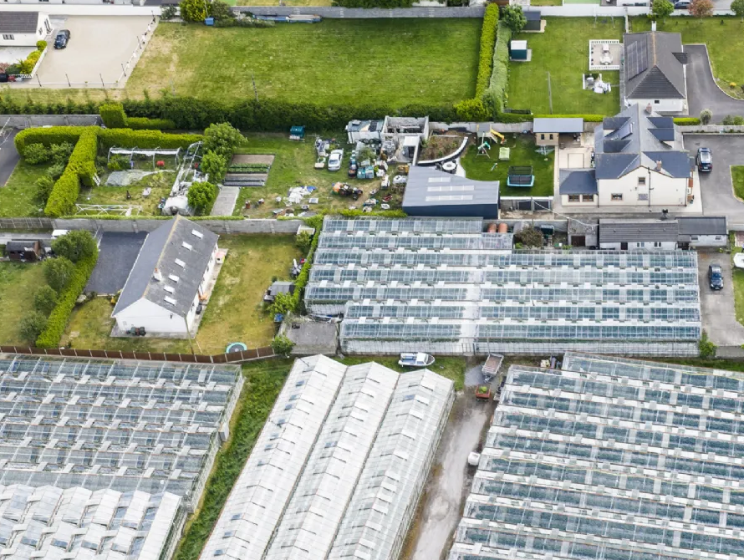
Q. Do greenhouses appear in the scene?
Yes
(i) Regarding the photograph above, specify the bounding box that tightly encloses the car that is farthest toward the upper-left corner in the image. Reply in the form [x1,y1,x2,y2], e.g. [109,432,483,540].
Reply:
[52,30,70,48]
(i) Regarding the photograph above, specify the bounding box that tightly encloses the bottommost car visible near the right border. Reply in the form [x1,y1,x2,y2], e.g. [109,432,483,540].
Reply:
[706,262,724,287]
